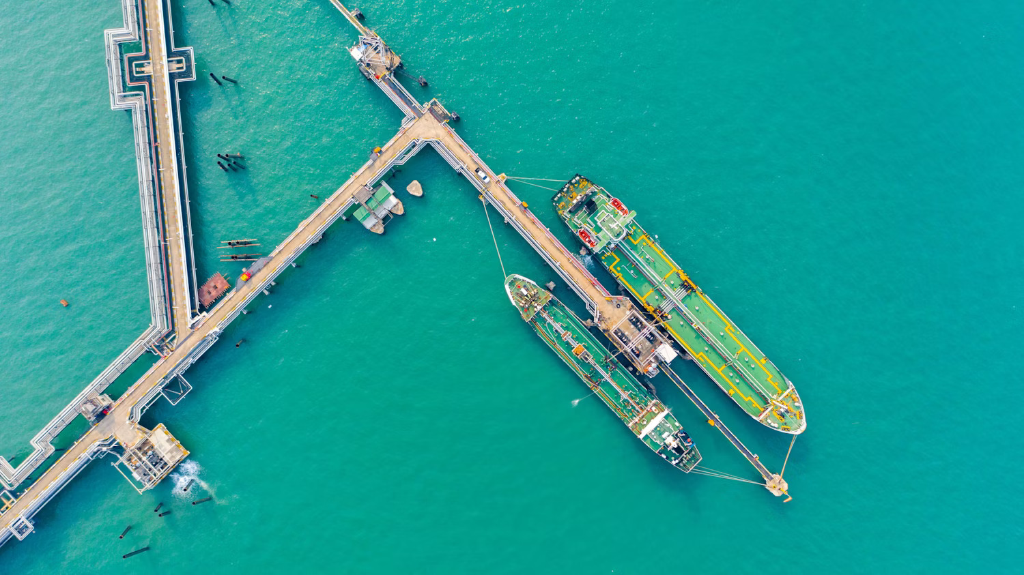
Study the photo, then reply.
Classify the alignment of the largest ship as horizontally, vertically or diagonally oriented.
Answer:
diagonally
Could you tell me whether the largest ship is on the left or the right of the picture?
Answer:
right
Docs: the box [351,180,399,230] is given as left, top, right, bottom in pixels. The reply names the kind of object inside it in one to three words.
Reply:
shed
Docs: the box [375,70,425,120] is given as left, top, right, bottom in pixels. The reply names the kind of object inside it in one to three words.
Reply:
pier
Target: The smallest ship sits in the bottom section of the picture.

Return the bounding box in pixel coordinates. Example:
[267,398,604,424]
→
[505,274,702,473]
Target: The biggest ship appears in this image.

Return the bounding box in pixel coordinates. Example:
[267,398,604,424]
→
[551,174,806,435]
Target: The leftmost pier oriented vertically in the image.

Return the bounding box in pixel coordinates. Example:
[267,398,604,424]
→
[125,0,207,357]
